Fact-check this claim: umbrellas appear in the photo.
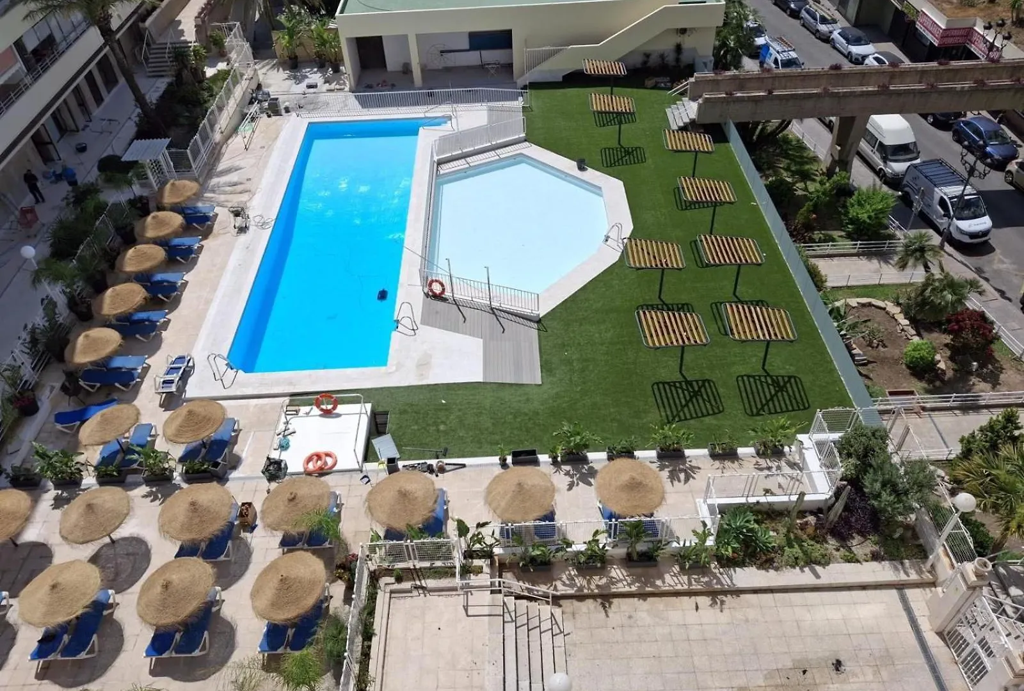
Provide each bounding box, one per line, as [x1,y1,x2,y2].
[242,547,323,618]
[65,330,127,378]
[160,483,236,543]
[81,402,150,454]
[599,455,669,519]
[162,182,209,231]
[488,460,559,525]
[121,556,206,631]
[12,560,96,637]
[97,288,156,340]
[61,486,137,550]
[120,247,174,292]
[365,469,436,531]
[162,395,231,448]
[139,215,189,265]
[260,476,333,541]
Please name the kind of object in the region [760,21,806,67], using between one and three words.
van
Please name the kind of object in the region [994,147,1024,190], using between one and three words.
car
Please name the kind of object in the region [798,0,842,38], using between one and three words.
car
